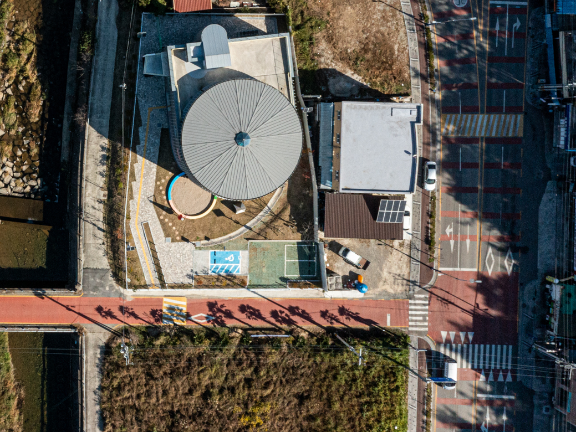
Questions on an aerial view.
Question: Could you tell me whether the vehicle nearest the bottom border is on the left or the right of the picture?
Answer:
right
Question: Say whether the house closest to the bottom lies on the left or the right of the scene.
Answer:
right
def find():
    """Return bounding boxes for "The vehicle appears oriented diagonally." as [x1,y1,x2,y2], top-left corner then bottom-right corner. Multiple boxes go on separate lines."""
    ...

[337,245,371,271]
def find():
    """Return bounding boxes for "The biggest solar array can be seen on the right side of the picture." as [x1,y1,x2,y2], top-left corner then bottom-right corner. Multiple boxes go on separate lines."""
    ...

[374,199,407,223]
